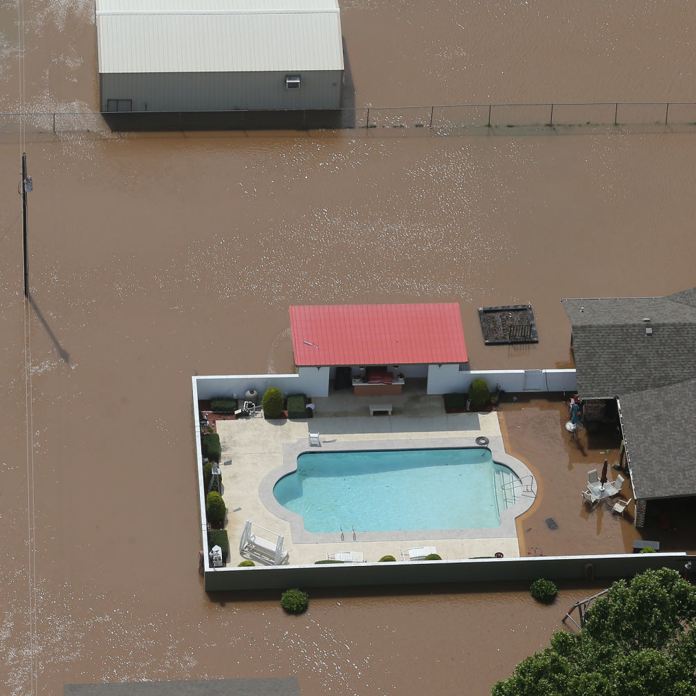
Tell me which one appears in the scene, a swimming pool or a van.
swimming pool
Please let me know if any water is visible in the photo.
Yes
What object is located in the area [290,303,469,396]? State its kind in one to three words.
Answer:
building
